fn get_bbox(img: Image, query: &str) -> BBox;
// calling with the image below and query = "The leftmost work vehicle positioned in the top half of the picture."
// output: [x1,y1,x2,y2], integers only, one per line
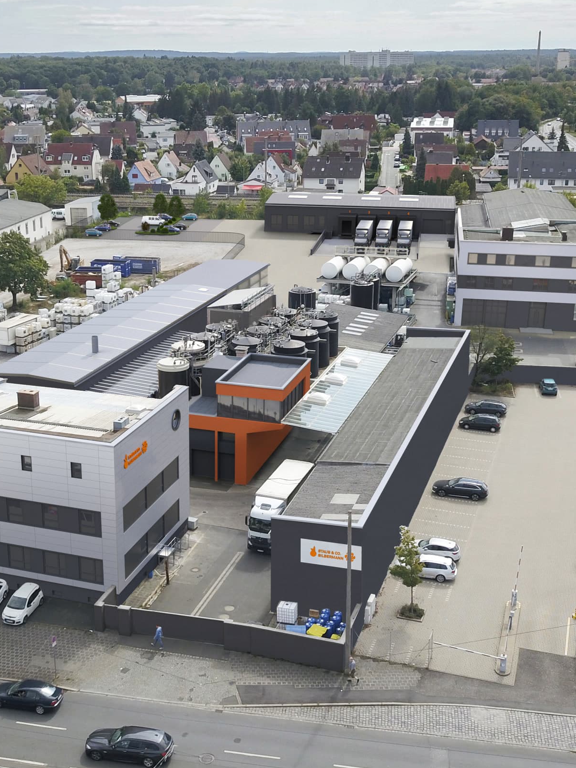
[53,244,78,277]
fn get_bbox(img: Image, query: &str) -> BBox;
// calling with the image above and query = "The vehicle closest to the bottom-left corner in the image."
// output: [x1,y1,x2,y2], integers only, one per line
[0,677,68,716]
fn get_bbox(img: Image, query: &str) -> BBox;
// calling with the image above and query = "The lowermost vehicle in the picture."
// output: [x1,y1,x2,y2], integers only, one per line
[81,725,171,768]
